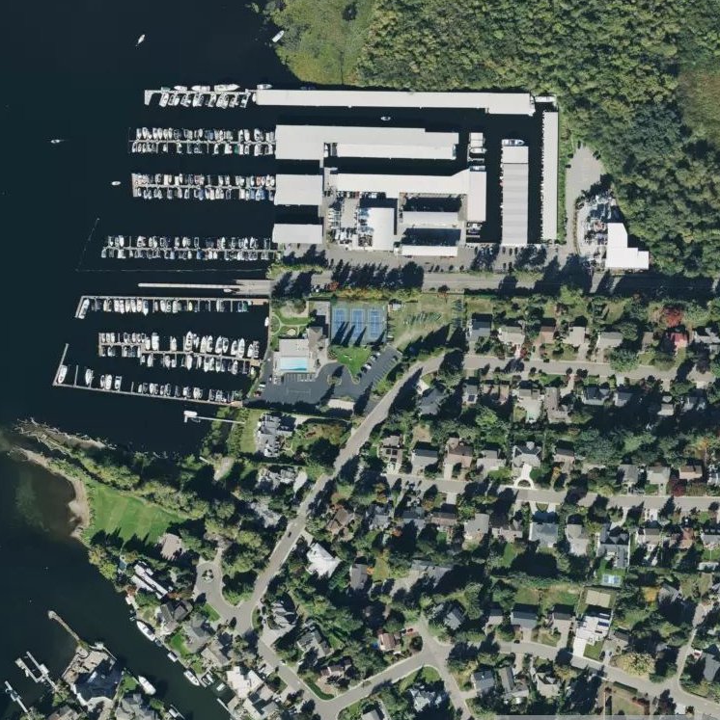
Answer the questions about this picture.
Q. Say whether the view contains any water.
Yes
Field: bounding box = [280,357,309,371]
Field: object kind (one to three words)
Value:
swimming pool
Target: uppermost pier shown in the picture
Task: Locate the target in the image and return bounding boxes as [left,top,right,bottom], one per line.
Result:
[144,89,257,105]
